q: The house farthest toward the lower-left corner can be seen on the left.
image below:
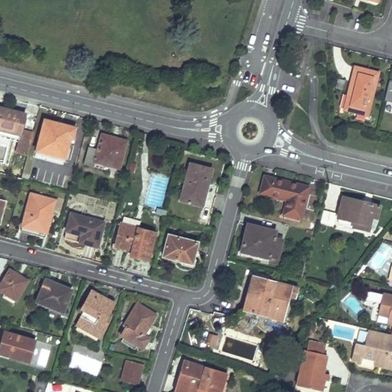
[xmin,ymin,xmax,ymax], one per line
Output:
[0,331,37,365]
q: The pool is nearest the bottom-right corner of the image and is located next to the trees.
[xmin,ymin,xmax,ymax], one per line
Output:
[332,325,356,341]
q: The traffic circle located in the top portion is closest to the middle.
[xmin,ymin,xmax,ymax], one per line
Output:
[223,104,278,158]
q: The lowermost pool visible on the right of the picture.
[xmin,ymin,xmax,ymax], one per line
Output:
[222,336,258,362]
